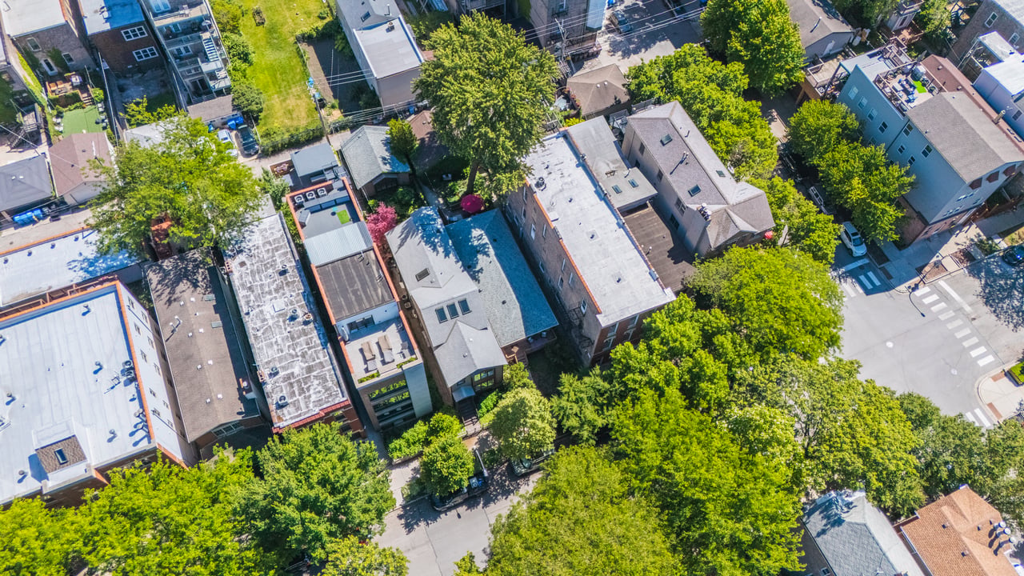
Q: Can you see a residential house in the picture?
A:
Yes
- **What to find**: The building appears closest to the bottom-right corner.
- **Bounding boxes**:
[895,487,1024,576]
